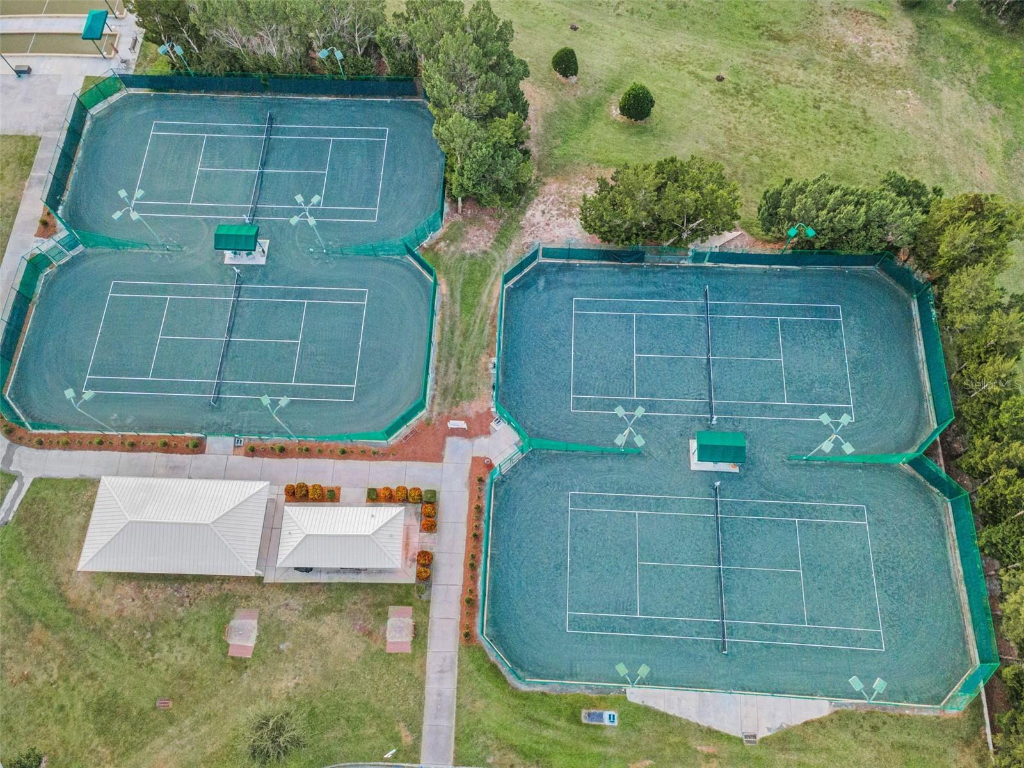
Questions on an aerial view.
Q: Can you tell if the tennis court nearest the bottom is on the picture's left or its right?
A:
right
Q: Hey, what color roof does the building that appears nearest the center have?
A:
white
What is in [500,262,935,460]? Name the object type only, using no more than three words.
tennis court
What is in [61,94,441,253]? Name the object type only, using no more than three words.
tennis court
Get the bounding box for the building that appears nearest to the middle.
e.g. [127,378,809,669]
[277,504,404,569]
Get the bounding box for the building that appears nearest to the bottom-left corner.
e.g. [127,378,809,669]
[78,478,274,575]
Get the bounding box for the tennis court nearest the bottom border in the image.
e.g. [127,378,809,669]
[485,448,976,704]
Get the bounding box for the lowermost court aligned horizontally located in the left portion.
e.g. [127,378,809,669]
[9,247,433,436]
